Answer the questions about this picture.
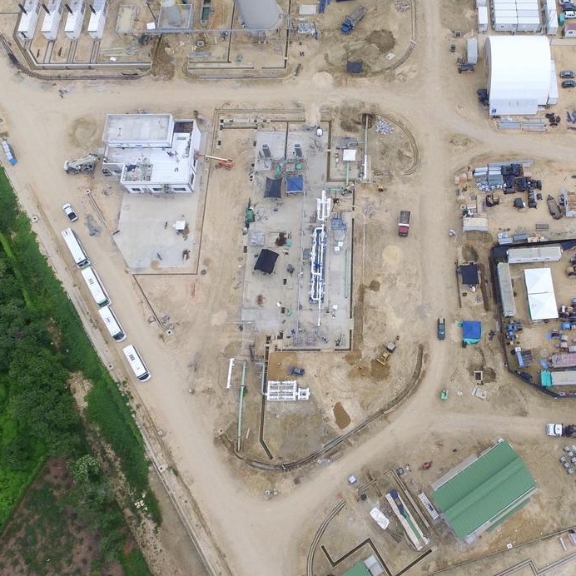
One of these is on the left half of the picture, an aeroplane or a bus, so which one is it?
bus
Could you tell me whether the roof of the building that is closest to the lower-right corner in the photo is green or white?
green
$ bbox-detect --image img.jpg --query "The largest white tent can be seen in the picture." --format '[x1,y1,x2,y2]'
[523,267,558,322]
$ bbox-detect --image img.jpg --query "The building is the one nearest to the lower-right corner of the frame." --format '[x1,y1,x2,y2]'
[431,440,535,540]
